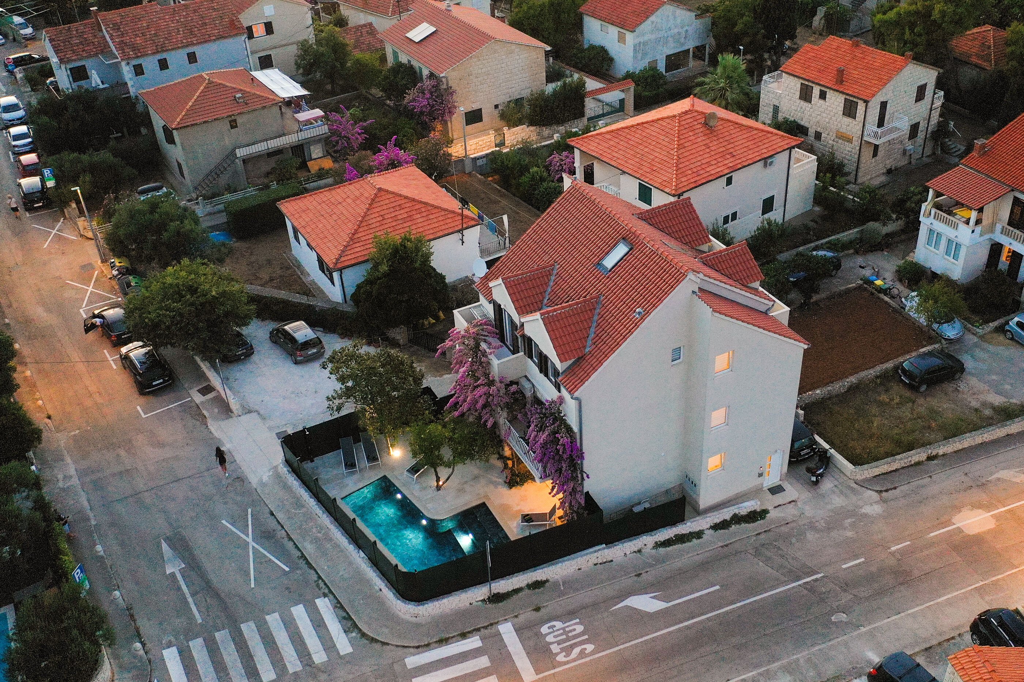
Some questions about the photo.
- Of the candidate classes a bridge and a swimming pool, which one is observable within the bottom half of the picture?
swimming pool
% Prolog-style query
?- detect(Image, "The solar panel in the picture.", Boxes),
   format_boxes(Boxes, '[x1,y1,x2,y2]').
[405,22,438,43]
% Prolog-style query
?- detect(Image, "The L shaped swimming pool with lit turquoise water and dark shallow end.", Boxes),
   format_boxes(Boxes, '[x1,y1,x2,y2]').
[339,470,521,574]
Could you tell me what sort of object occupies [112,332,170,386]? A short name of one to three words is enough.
car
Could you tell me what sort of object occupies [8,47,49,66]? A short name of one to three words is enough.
car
